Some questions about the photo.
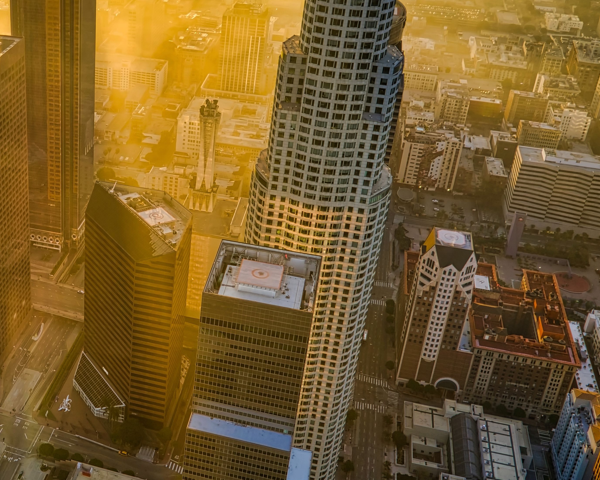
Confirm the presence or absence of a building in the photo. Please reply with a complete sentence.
Yes, there's a building down there.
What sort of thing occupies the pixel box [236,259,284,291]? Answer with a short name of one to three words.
helipad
